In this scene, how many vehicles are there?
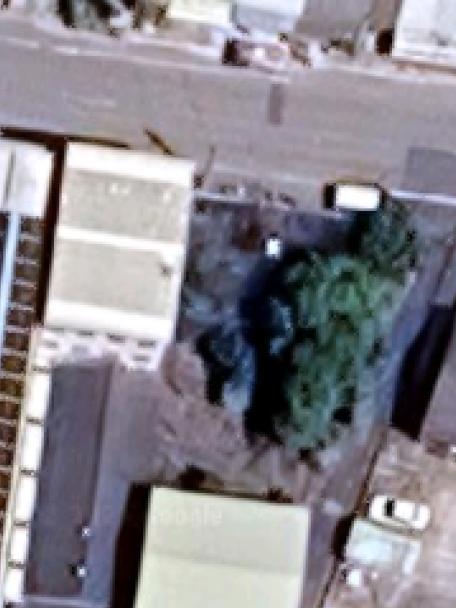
three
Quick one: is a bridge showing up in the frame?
No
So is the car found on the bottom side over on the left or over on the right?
right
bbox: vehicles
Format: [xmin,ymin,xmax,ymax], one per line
[322,180,384,212]
[222,39,292,70]
[367,496,433,532]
